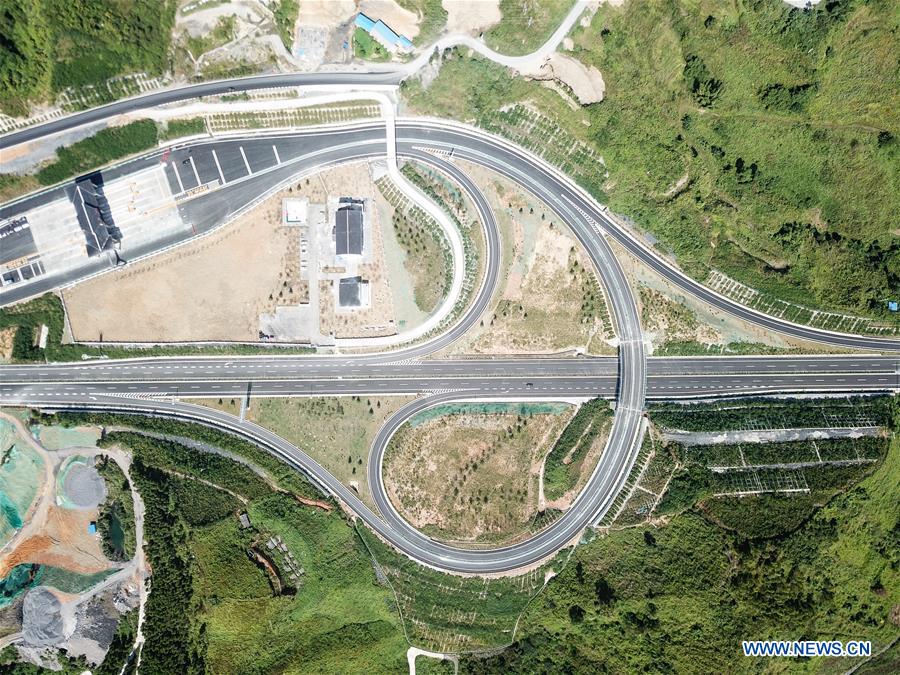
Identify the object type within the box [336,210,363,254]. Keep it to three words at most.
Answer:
building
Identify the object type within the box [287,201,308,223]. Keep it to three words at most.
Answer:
building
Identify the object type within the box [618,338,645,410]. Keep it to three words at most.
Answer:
overpass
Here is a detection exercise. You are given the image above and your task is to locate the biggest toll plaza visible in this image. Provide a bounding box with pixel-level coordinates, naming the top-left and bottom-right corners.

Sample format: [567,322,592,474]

[65,178,120,261]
